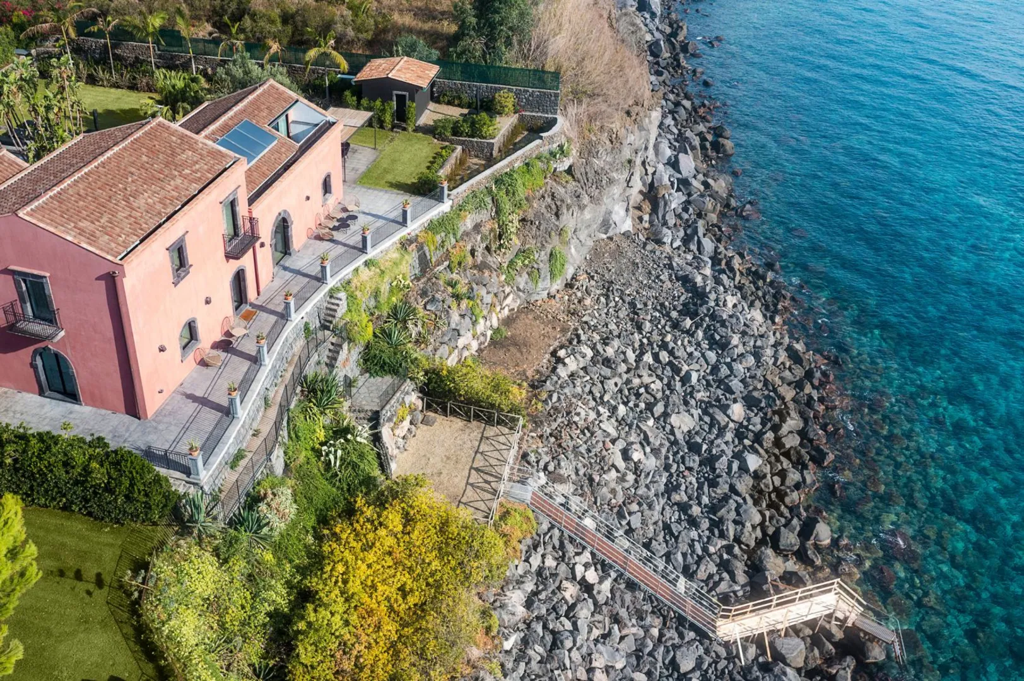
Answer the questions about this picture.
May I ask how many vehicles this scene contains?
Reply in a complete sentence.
The picture shows no vehicles.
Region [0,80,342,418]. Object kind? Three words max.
house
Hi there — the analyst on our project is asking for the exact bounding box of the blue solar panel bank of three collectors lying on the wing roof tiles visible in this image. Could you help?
[216,116,282,164]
